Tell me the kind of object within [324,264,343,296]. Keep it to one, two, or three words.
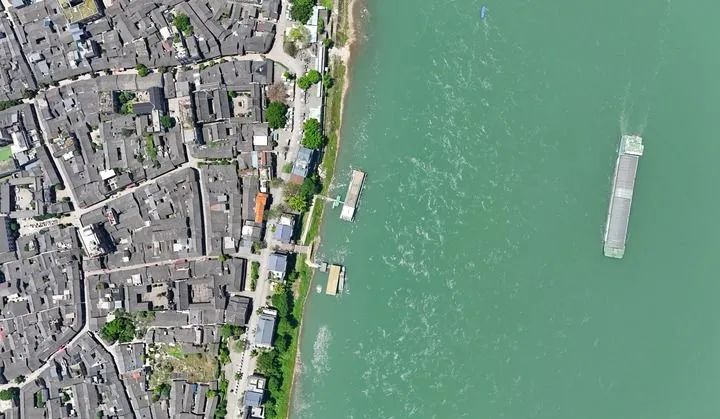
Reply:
pier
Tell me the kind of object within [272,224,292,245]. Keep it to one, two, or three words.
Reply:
house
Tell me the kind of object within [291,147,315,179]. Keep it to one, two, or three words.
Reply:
house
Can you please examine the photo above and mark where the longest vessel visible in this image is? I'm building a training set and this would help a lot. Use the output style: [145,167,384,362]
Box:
[607,134,647,259]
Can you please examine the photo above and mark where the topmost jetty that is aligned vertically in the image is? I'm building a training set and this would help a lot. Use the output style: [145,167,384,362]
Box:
[338,169,365,224]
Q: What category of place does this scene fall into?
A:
residential area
